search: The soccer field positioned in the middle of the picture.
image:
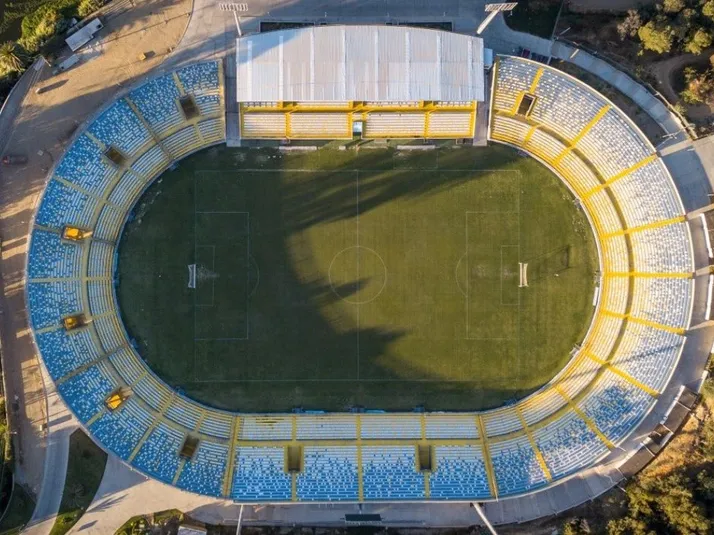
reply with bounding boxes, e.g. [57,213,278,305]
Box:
[116,130,600,413]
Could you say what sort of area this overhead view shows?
sports ground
